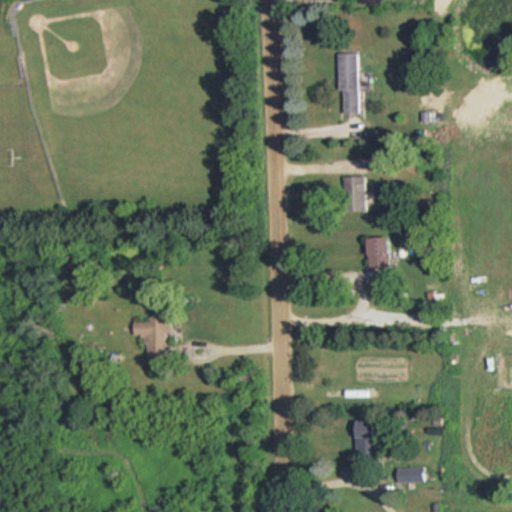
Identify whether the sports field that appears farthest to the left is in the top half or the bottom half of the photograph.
top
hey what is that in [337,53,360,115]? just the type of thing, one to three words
house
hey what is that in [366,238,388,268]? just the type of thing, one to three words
house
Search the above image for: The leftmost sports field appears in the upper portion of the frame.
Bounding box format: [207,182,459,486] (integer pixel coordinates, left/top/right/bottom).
[0,36,60,216]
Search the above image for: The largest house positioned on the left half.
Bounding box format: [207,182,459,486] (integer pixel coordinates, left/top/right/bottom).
[131,318,171,353]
